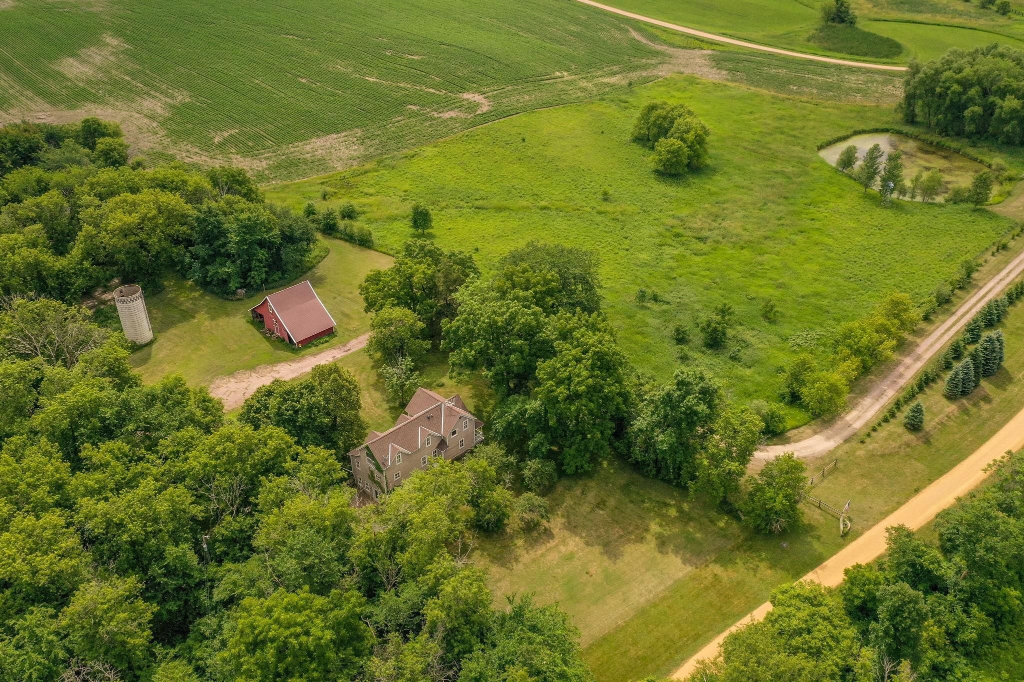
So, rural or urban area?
rural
